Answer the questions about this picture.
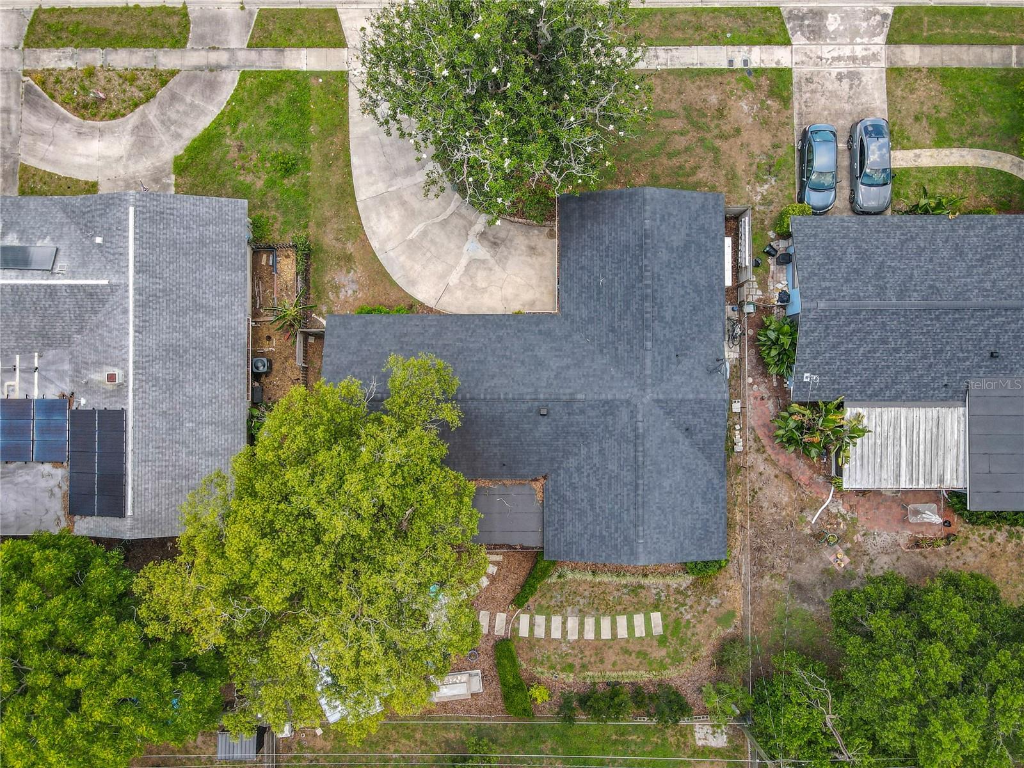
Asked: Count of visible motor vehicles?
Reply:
two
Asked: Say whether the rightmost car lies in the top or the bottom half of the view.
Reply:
top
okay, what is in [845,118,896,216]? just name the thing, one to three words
car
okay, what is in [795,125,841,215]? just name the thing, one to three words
car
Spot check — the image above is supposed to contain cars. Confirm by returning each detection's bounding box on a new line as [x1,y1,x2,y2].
[795,125,841,215]
[845,118,896,216]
